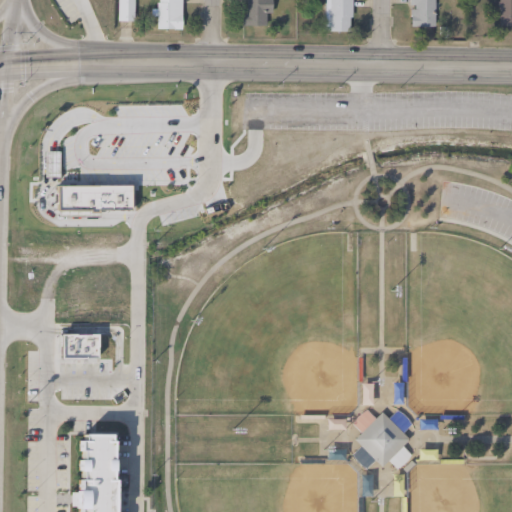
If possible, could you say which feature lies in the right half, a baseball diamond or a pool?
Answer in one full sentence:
There is a baseball diamond in the right half.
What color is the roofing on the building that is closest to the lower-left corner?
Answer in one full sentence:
The roof of the building that is closest to the lower-left corner is white.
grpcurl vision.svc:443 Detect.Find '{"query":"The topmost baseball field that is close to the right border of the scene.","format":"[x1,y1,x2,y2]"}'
[407,233,512,414]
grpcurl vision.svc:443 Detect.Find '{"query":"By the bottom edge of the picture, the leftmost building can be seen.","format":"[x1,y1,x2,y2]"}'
[70,432,122,512]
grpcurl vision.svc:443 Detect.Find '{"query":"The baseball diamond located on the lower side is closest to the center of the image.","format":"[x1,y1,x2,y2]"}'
[178,233,359,414]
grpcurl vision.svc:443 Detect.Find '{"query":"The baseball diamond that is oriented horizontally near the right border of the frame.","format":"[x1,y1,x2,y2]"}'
[409,464,512,512]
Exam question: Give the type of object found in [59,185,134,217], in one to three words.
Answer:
building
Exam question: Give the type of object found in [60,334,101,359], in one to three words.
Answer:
building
